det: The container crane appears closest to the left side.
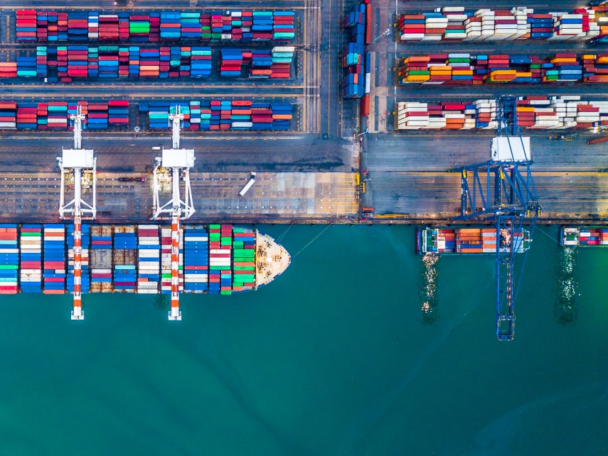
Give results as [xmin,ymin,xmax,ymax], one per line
[56,102,102,320]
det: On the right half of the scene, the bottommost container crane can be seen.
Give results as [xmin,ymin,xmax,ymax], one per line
[447,94,542,341]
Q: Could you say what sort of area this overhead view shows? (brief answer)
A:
port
